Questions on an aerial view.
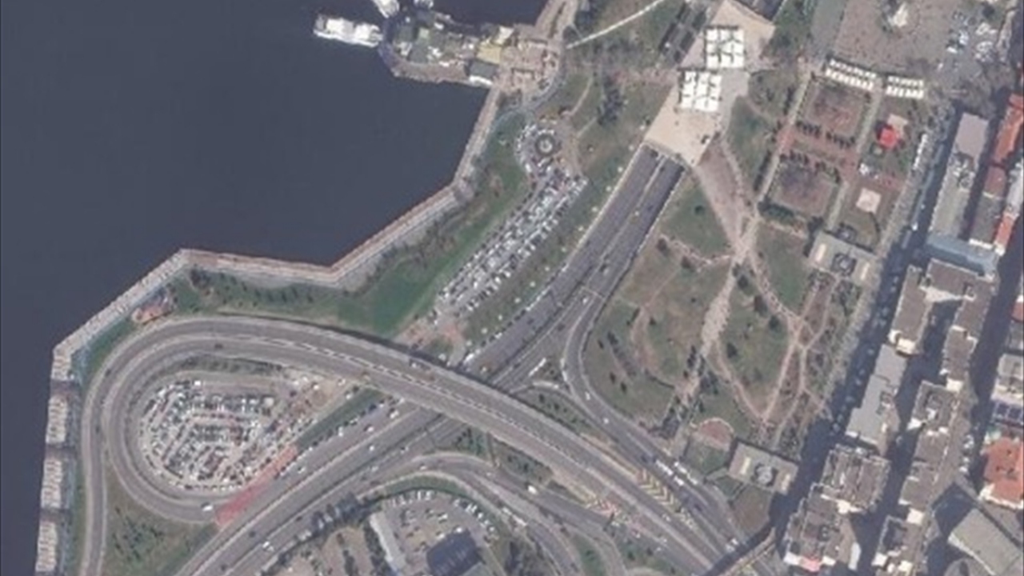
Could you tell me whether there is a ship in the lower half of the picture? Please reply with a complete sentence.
No, in the lower half of the picture there is no ship.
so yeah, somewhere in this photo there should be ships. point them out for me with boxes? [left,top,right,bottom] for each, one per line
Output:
[375,0,403,18]
[413,0,435,9]
[313,13,383,46]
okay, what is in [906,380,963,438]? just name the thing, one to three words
building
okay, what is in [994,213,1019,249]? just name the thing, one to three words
house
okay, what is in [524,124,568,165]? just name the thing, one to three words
roundabout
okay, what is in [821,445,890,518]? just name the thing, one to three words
building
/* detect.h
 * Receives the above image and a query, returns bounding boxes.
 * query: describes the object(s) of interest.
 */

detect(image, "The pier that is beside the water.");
[380,9,516,87]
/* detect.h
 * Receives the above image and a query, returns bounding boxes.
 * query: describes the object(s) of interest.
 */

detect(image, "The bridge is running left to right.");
[80,318,638,576]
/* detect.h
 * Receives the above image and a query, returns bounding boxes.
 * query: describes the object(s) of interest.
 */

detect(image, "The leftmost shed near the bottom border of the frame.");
[370,512,409,576]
